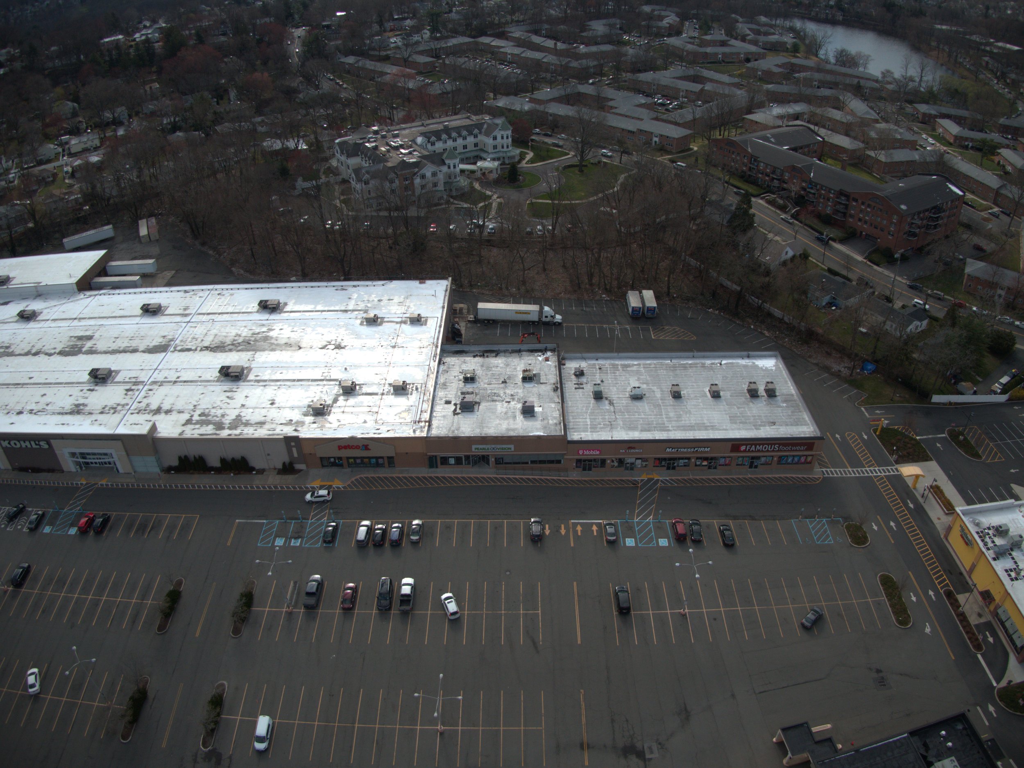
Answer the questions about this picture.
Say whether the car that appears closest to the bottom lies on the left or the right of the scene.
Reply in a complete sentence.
The car that appears closest to the bottom is on the left side of the image.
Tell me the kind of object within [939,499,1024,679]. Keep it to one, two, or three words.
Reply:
building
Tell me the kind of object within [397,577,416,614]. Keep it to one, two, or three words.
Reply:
vehicle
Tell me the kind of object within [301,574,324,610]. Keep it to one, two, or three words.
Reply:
truck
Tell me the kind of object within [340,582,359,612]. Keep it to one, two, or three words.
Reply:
car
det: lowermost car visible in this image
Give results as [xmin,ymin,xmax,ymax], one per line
[250,711,275,756]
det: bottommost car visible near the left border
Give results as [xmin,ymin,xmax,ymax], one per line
[22,664,45,700]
